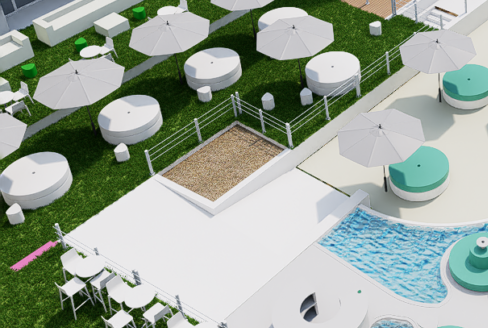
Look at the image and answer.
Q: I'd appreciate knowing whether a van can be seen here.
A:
No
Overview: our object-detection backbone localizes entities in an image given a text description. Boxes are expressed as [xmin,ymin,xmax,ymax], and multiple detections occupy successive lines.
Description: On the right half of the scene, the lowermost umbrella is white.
[337,112,423,192]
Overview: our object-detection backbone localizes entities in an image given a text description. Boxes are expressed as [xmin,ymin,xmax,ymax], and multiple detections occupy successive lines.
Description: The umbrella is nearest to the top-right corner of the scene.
[399,32,477,103]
